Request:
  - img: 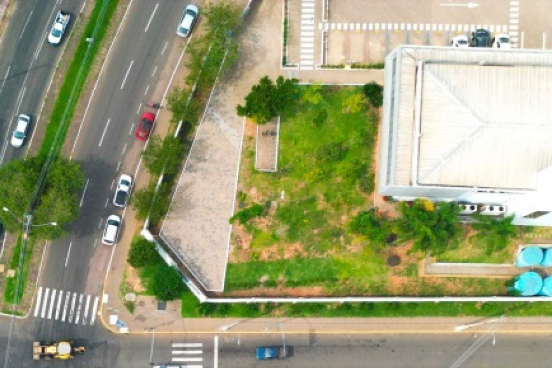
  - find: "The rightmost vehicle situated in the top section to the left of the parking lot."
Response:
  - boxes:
[175,4,197,40]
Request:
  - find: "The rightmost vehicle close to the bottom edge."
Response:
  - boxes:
[255,343,291,360]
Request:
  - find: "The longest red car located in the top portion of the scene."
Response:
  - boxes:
[133,110,156,143]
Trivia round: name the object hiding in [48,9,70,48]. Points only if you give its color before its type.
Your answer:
white truck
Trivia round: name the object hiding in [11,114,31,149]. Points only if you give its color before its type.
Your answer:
white car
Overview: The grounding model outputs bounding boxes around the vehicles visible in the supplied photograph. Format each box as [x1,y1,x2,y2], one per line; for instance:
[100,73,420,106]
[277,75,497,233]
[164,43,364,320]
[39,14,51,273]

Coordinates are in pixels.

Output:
[48,9,70,48]
[451,35,470,45]
[11,114,31,149]
[111,173,133,209]
[34,342,87,360]
[152,362,181,368]
[492,35,512,45]
[470,29,492,45]
[133,110,156,143]
[255,343,291,360]
[175,4,197,40]
[101,214,122,247]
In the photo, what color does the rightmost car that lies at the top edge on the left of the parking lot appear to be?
white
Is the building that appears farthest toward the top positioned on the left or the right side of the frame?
right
